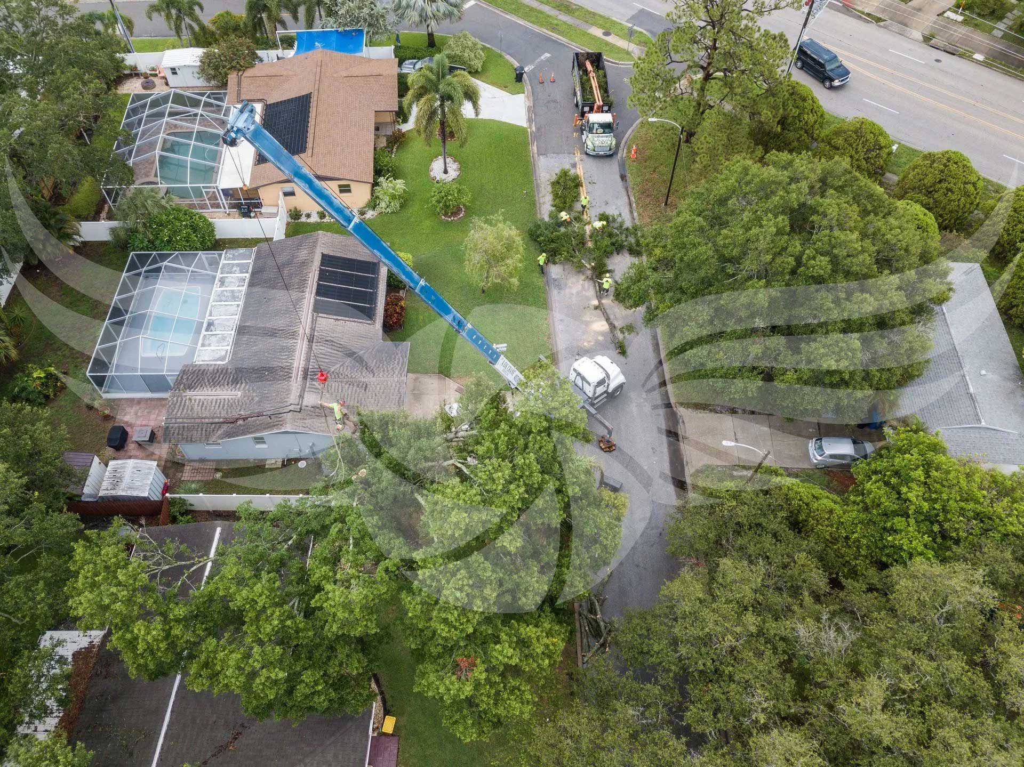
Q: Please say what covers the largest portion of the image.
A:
trees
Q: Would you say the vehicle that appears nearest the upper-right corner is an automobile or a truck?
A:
automobile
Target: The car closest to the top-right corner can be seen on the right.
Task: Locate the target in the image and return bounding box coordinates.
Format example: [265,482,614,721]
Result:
[789,35,857,90]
